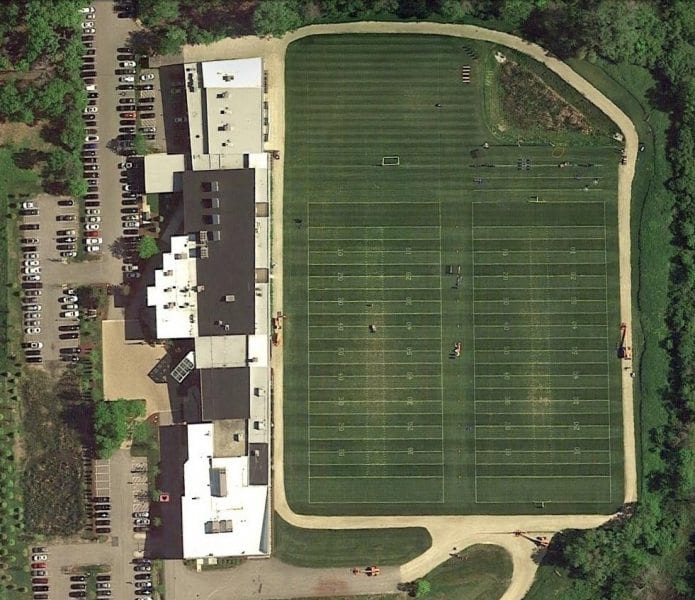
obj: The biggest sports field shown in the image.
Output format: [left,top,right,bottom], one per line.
[283,33,624,516]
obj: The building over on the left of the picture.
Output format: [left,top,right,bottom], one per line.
[145,58,274,558]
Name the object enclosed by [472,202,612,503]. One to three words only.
sports field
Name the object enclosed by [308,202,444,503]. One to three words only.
sports field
